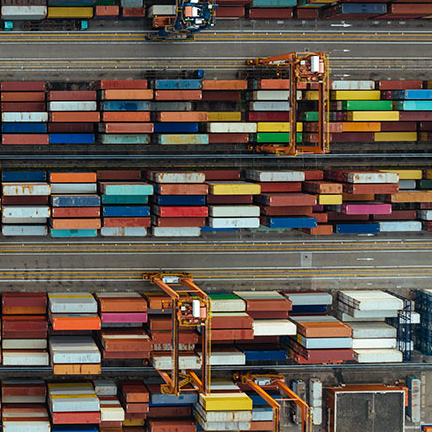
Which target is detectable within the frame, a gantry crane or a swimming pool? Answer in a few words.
gantry crane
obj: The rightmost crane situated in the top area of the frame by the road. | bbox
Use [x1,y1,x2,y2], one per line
[250,51,333,156]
